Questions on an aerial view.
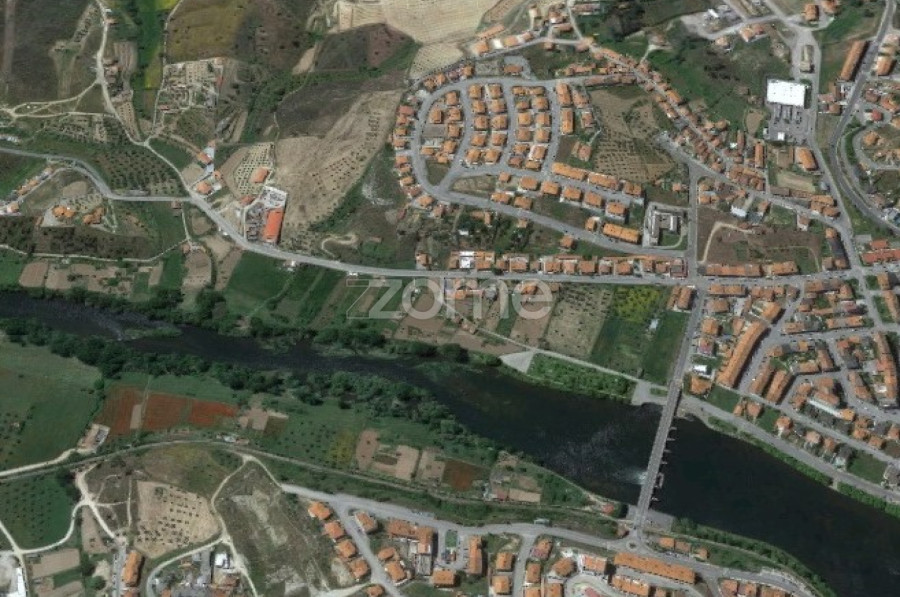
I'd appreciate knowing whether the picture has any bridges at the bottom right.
Yes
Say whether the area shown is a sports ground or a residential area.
residential area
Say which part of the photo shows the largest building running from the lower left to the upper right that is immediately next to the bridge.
right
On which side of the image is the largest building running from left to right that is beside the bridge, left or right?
right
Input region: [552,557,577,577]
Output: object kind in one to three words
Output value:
house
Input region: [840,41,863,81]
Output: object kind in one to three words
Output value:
building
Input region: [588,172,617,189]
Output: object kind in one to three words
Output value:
building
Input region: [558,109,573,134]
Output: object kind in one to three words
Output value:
house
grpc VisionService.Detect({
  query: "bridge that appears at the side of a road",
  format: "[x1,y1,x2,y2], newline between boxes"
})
[632,368,685,531]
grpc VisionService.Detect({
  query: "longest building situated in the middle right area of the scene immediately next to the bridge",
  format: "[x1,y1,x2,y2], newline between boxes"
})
[718,318,768,385]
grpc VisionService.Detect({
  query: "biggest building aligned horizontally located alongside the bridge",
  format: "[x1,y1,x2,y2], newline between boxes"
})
[613,554,694,585]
